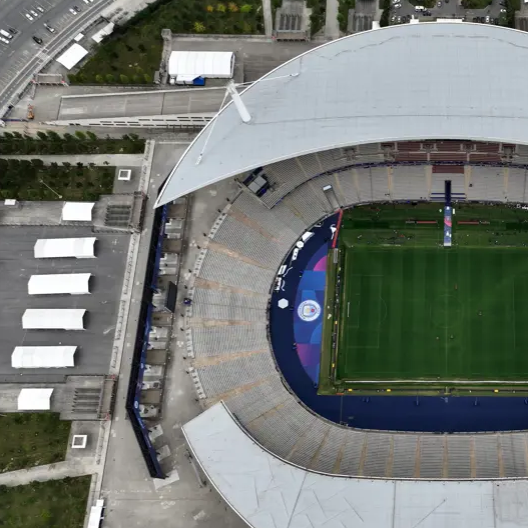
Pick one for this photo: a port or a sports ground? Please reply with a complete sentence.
This image shows a sports ground.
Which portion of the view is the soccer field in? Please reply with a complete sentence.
Look in the right portion of the view to spot the soccer field.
